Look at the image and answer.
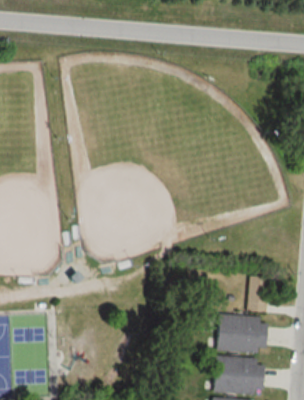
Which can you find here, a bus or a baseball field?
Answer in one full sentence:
This aerial view contains a baseball field.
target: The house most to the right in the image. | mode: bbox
[248,276,270,312]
